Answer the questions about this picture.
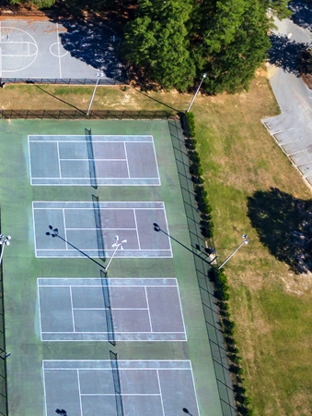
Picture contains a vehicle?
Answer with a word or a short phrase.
No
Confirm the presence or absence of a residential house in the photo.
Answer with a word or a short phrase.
No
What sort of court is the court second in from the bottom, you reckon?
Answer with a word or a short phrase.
tennis court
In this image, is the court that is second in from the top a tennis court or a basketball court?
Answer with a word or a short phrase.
tennis court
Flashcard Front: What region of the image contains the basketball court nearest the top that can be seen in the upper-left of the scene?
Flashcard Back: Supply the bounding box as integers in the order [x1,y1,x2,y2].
[0,13,131,82]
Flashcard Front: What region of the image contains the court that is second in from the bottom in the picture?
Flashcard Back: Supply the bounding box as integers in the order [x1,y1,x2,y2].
[37,278,187,340]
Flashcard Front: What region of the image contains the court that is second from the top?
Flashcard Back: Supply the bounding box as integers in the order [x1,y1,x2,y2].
[28,135,161,185]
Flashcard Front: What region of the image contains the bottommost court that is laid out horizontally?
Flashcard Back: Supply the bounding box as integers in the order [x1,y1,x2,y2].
[43,359,200,416]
